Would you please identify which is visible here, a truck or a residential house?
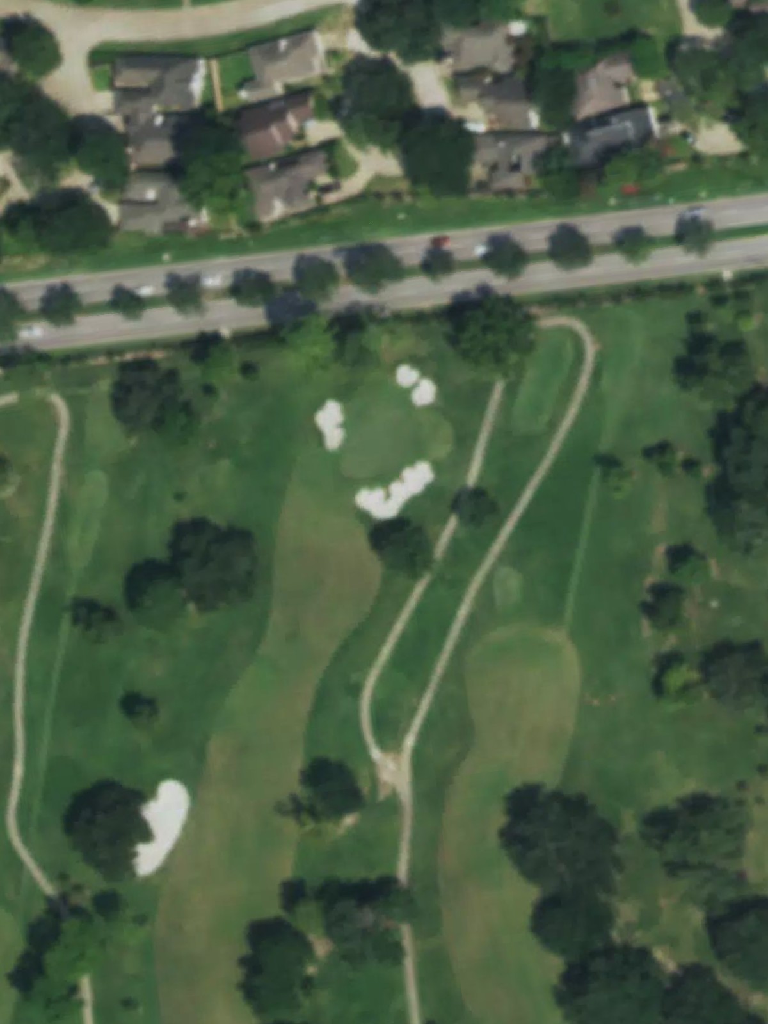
residential house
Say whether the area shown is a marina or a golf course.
golf course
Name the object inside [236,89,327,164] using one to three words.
house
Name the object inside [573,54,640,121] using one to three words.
house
